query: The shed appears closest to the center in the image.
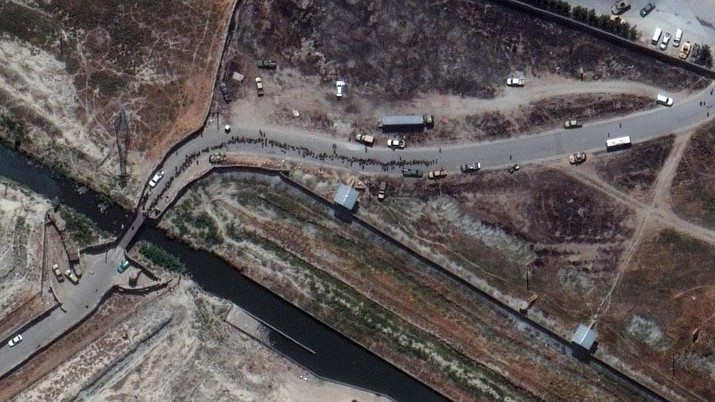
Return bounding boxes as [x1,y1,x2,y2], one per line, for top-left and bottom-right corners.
[332,184,361,213]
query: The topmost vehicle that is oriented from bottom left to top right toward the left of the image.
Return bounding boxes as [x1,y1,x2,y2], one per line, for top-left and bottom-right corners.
[148,170,164,188]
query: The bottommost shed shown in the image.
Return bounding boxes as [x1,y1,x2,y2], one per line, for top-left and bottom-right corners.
[571,325,600,353]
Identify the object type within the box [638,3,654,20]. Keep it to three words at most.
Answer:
vehicle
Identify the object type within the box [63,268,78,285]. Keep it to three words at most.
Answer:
vehicle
